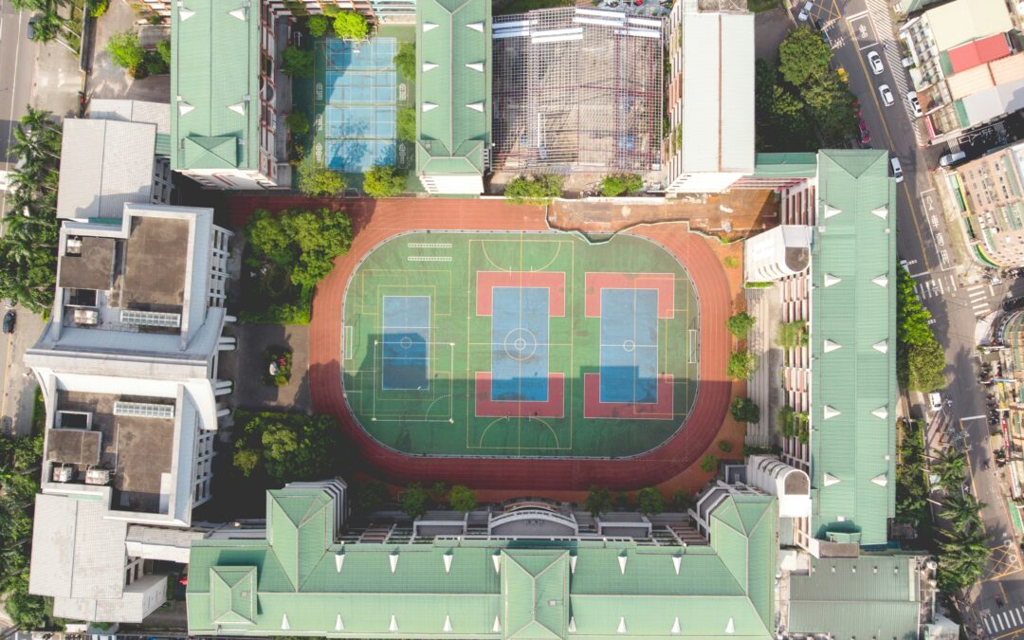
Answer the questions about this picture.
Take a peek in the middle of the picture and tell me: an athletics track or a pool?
athletics track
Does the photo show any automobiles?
Yes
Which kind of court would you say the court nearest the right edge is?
basketball court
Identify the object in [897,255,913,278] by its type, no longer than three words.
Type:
car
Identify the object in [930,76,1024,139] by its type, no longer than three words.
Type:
house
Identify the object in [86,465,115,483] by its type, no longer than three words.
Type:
water tank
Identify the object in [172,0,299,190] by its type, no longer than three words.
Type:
building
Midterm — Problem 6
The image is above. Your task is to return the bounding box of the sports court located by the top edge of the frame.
[294,23,417,194]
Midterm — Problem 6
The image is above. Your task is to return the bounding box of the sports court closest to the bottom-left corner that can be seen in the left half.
[343,270,451,416]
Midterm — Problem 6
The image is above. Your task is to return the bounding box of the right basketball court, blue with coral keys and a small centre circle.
[585,273,688,419]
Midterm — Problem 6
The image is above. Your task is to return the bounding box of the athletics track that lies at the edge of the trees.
[228,197,732,490]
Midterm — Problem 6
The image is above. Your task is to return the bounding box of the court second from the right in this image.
[476,272,564,418]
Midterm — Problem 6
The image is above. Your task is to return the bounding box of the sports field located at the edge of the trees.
[341,231,700,459]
